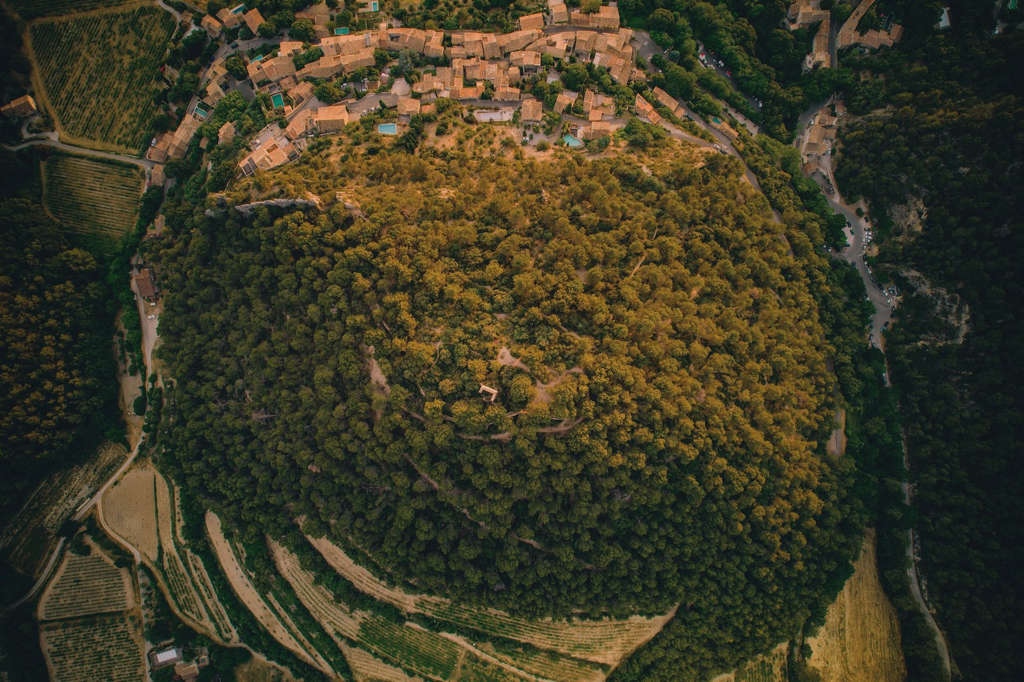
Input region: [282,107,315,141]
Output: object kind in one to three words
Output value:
house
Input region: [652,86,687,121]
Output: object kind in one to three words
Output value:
house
